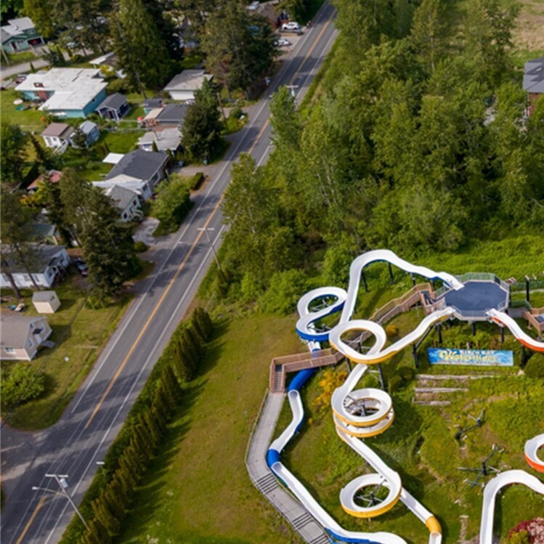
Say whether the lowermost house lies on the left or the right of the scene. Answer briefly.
left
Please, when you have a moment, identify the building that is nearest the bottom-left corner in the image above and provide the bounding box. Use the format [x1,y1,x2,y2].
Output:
[0,316,50,360]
